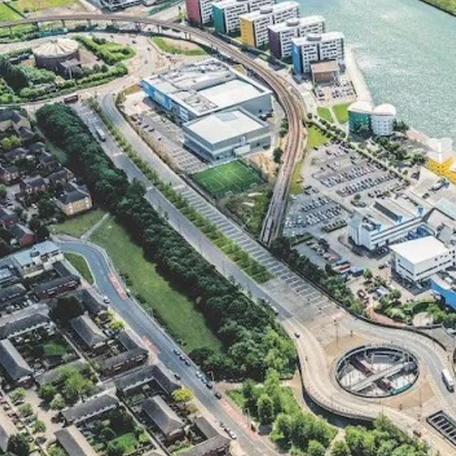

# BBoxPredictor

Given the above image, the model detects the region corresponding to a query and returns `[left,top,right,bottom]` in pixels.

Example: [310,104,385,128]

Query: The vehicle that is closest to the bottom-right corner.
[442,366,455,390]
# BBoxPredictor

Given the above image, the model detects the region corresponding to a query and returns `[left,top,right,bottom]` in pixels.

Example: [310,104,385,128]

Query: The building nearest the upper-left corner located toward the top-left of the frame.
[30,40,81,79]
